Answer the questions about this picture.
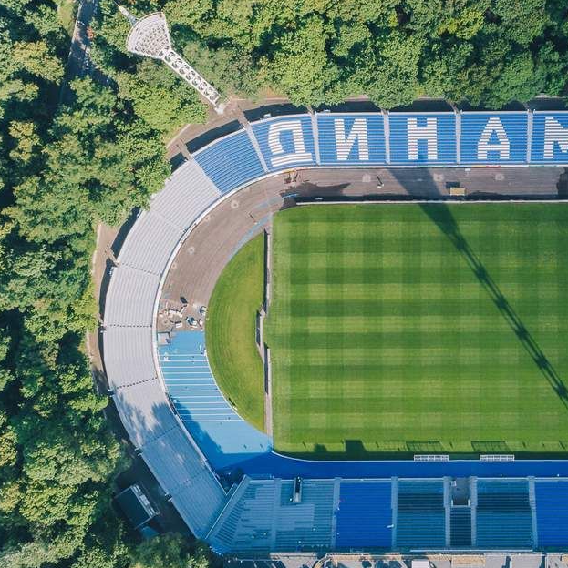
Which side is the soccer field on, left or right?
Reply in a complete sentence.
The soccer field sits on the right side.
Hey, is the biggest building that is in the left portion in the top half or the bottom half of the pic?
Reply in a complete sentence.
Seen from above, the biggest building that is in the left portion lies in the bottom half of the view.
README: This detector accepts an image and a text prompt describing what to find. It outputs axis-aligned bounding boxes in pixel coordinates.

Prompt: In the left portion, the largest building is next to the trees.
[110,483,164,537]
